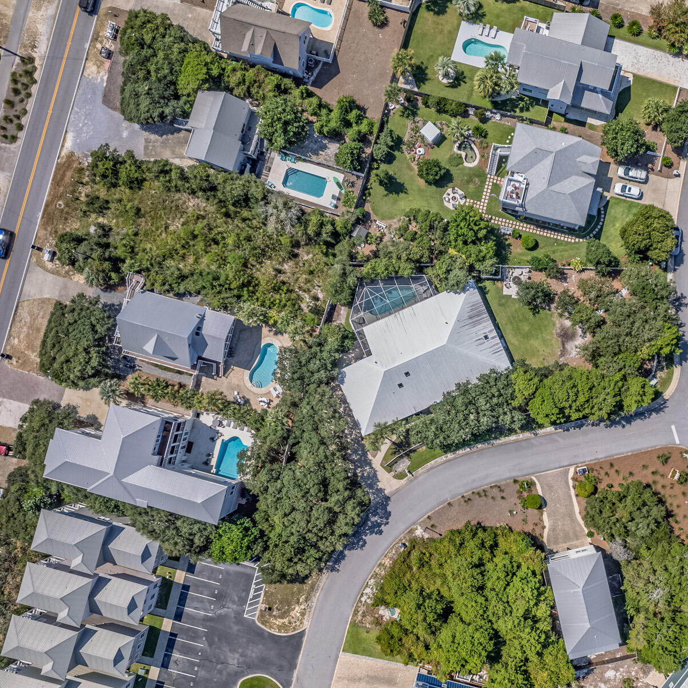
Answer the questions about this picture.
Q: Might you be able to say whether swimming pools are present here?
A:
Yes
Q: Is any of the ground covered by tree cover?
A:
Yes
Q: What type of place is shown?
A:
residential area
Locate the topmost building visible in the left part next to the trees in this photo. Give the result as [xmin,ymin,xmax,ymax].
[209,0,316,77]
